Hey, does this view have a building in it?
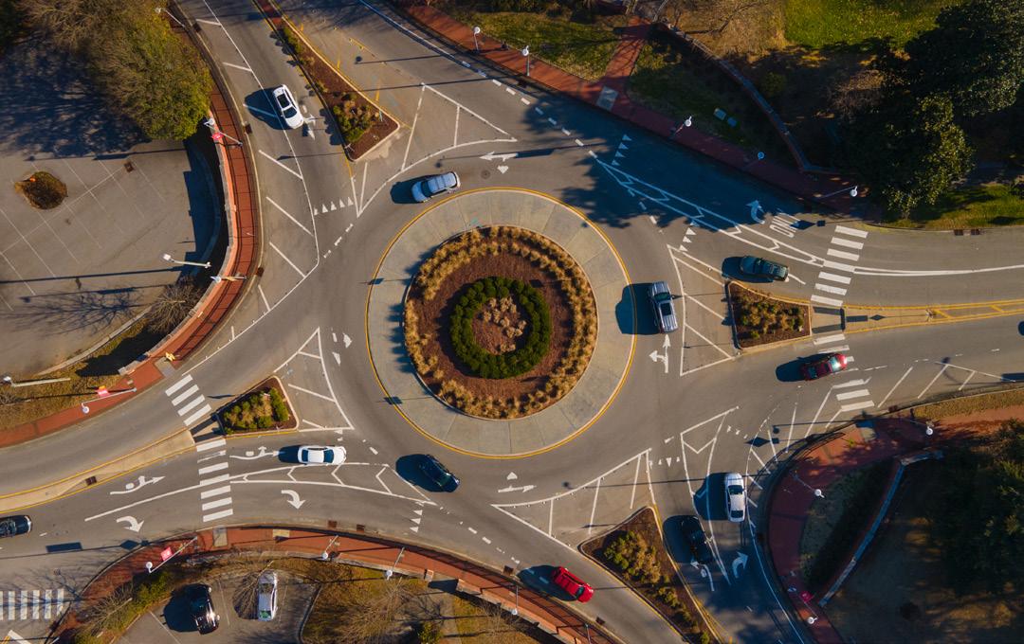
No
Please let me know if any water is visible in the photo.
No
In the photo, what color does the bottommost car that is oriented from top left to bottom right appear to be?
red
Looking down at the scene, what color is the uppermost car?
white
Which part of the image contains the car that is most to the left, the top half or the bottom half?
bottom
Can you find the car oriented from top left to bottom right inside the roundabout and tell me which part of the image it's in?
bottom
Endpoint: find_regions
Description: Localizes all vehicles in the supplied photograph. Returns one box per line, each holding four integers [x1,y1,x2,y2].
[189,584,217,634]
[724,472,748,522]
[271,83,306,130]
[298,445,348,468]
[419,454,462,491]
[682,515,713,566]
[0,516,34,540]
[551,565,595,602]
[738,256,789,283]
[651,281,679,333]
[256,572,279,619]
[412,172,462,200]
[799,354,847,381]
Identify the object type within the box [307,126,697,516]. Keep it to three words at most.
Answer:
roundabout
